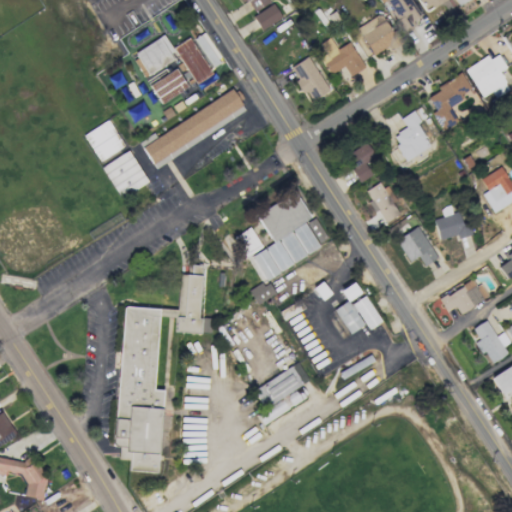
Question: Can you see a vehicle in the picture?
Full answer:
Yes, the frame does contain a vehicle.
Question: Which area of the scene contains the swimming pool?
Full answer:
The swimming pool sits in the right section of the image.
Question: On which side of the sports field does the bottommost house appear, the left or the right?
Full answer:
The sports field has the bottommost house on its left side.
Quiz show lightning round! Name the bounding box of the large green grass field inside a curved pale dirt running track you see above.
[216,404,464,512]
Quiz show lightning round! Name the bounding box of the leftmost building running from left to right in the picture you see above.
[2,274,38,290]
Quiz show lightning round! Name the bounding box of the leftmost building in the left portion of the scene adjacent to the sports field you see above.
[116,264,213,474]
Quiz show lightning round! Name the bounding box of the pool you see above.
[475,272,498,296]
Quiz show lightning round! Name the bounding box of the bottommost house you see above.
[0,460,48,500]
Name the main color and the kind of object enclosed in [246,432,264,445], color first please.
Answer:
white vehicle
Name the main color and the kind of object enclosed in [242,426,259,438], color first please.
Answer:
white vehicle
